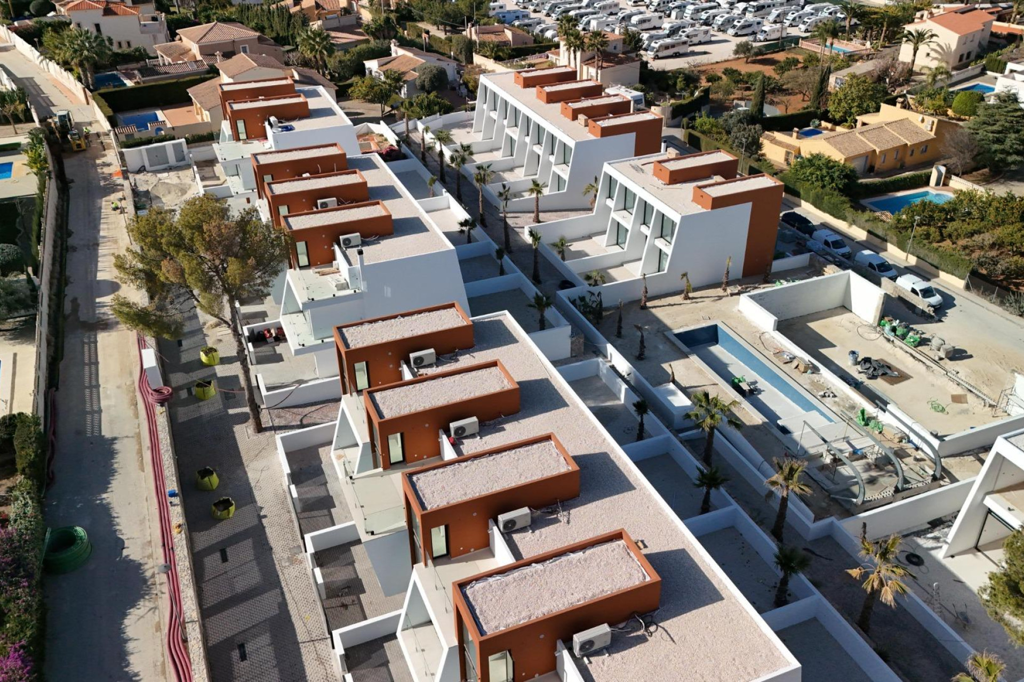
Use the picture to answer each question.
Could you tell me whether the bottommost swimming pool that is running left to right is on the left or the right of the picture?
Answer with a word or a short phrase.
right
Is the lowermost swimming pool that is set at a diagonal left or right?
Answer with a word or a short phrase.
right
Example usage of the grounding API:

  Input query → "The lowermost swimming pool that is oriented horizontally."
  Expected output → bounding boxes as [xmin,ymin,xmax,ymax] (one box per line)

[858,189,957,216]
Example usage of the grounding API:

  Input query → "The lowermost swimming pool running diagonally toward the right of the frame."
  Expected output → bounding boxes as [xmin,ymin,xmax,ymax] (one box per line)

[662,318,851,455]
